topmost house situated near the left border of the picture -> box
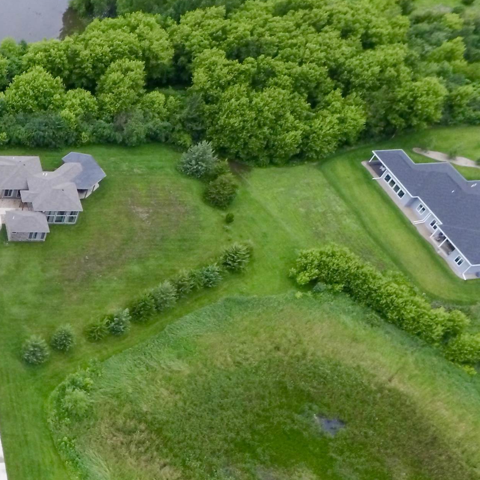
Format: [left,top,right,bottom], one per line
[0,152,107,222]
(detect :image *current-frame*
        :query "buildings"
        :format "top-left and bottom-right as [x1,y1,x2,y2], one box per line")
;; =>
[367,149,480,274]
[0,152,107,222]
